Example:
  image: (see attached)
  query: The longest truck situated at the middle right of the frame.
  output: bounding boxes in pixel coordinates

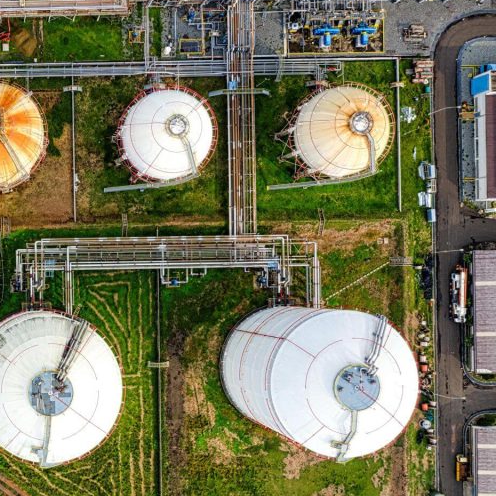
[441,266,467,324]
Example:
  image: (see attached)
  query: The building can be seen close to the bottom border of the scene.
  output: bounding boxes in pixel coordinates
[465,424,496,496]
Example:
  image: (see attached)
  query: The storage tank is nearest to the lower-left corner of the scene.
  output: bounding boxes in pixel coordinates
[0,308,124,469]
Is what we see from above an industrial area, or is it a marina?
industrial area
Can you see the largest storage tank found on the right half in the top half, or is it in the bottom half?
bottom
